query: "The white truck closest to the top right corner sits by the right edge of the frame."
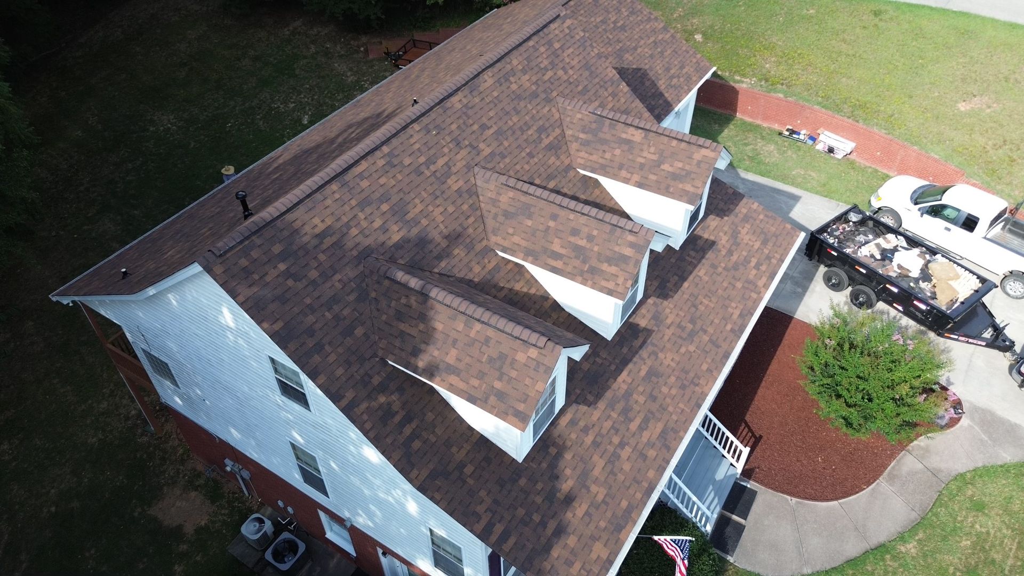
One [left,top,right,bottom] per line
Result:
[863,170,1024,299]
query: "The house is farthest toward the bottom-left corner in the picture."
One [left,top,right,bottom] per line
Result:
[47,0,806,576]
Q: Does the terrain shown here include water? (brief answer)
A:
No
